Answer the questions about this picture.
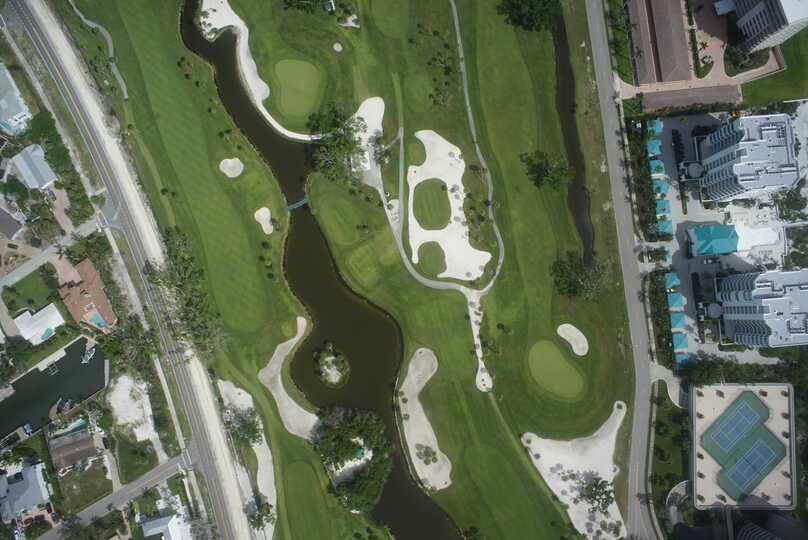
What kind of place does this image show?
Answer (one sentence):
The picture captures a golf course.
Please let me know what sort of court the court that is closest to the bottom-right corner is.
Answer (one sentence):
The court that is closest to the bottom-right corner is a tennis court.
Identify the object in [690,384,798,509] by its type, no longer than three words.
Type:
building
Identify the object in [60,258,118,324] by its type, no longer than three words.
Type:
house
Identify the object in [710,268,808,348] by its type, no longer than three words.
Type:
building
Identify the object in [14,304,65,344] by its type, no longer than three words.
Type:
house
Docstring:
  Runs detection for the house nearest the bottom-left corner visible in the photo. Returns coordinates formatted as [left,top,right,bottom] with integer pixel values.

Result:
[0,463,53,516]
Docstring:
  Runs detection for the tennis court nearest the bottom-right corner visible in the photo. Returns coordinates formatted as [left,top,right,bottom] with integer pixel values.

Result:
[716,425,787,501]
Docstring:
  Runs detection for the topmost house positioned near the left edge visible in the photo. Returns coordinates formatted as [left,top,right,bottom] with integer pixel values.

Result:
[0,62,34,133]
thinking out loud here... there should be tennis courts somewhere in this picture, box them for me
[701,391,769,466]
[716,425,787,501]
